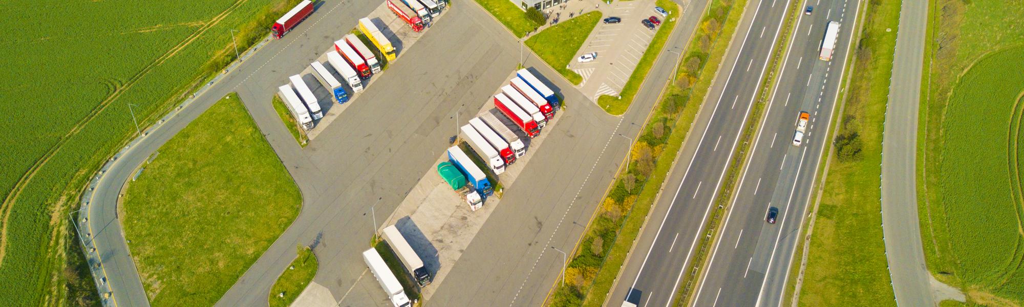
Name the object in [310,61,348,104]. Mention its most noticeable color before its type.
white truck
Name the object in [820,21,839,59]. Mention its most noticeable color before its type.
white vehicle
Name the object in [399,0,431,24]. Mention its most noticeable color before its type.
white truck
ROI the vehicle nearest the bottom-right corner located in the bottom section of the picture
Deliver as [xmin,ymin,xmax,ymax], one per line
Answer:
[767,207,779,223]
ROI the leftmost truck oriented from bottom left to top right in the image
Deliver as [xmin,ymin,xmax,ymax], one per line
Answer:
[271,0,313,39]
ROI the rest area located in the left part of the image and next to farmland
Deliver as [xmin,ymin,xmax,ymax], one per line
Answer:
[88,0,711,307]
